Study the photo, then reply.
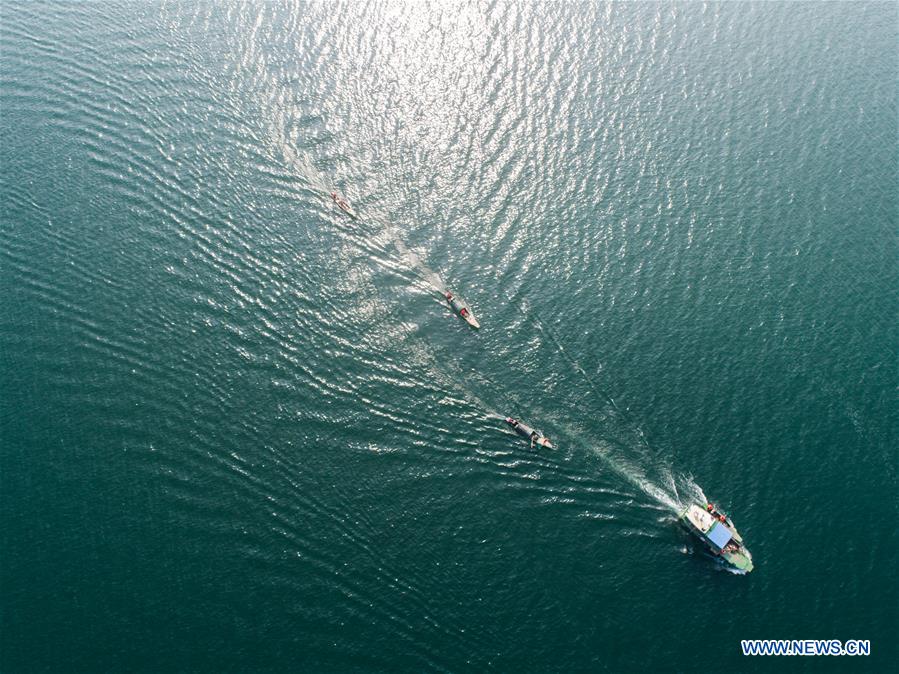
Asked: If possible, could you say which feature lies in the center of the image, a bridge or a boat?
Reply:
boat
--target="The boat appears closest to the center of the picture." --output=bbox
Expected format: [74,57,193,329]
[445,290,479,327]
